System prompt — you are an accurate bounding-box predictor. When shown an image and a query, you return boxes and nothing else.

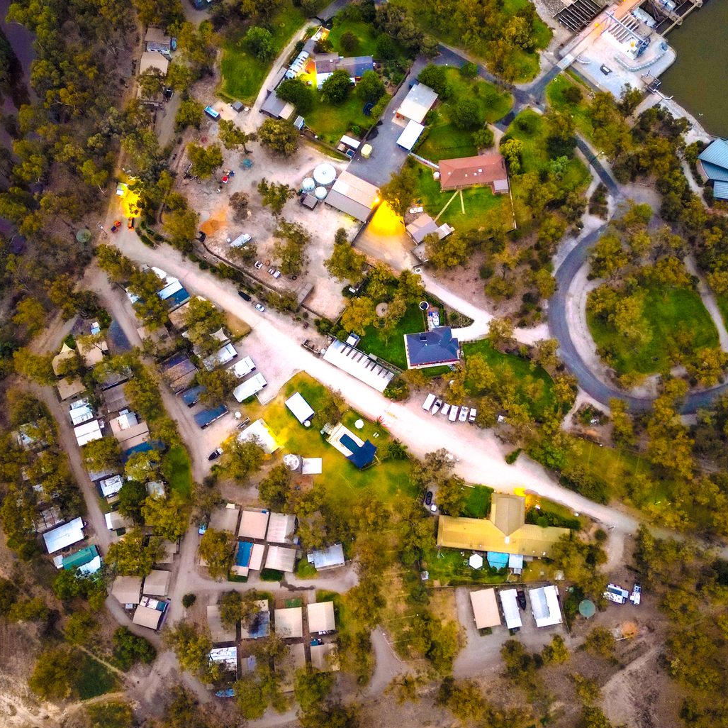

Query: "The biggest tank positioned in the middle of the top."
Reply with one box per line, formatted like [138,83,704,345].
[312,162,337,187]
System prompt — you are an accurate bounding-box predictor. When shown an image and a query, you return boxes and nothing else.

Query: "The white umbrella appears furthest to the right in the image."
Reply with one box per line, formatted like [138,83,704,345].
[469,553,482,567]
